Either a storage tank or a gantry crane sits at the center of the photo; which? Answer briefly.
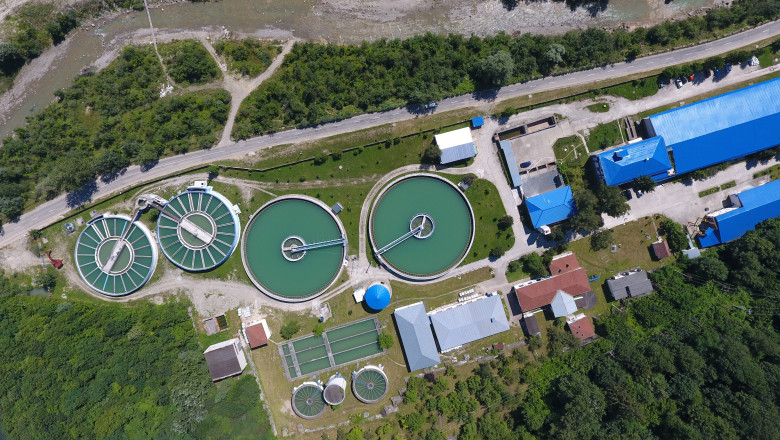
storage tank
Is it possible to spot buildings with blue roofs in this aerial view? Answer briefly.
Yes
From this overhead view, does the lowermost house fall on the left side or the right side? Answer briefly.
left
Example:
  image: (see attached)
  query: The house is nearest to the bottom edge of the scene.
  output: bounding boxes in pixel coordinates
[204,340,248,380]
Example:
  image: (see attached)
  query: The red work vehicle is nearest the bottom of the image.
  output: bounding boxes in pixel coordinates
[49,248,65,269]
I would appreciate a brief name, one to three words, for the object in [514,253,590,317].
house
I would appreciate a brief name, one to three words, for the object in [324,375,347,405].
silo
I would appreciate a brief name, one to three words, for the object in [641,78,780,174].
building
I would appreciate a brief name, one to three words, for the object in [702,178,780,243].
shed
